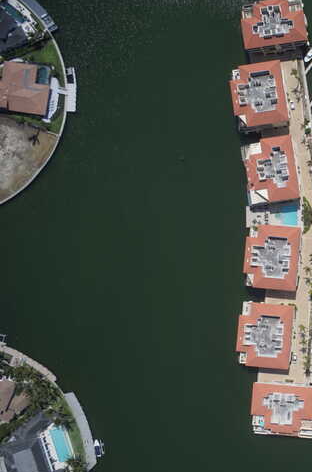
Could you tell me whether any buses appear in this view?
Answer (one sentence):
No, the picture doesn't show any bus.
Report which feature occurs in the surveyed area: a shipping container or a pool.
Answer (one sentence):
There is a pool in the scene.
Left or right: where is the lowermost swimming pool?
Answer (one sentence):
It is on the left.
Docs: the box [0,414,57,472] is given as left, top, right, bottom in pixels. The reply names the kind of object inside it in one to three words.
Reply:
house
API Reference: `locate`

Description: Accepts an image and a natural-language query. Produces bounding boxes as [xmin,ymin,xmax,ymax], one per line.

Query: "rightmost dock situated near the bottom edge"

[65,391,97,470]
